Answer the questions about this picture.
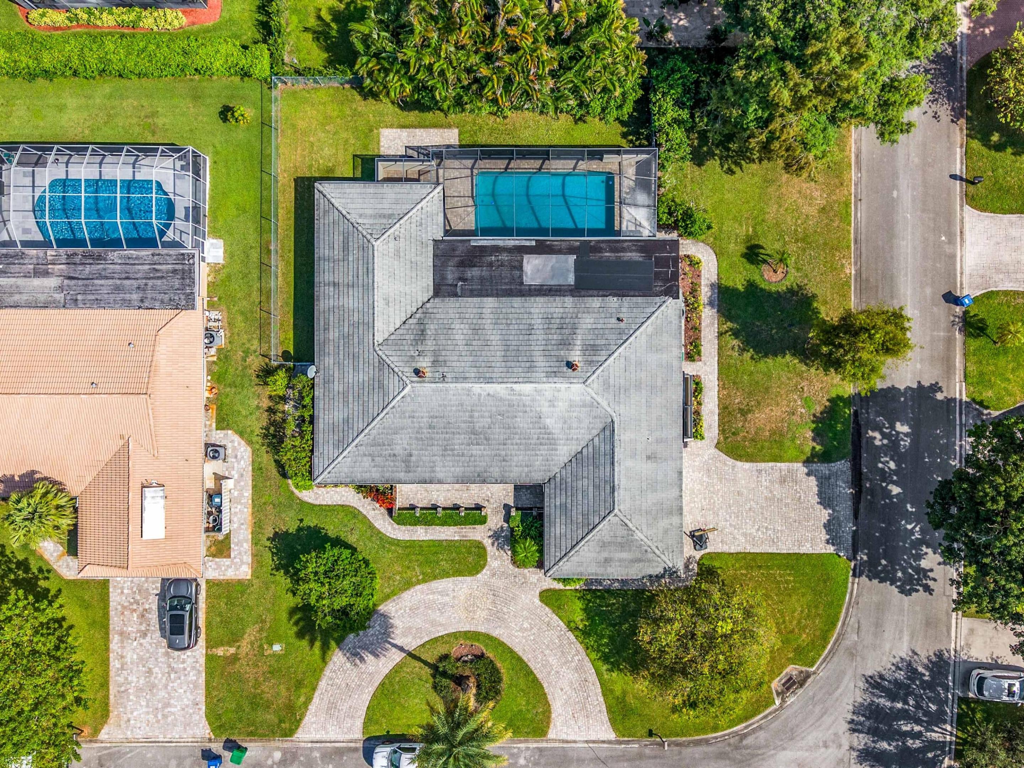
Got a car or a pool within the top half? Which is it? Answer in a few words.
pool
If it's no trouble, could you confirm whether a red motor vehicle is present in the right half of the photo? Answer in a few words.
No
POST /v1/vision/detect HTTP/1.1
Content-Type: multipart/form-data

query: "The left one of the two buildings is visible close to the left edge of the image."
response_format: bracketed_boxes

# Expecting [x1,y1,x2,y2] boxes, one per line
[0,248,206,579]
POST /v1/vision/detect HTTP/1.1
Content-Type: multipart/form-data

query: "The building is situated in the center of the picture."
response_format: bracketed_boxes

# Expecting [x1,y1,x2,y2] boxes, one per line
[312,180,685,580]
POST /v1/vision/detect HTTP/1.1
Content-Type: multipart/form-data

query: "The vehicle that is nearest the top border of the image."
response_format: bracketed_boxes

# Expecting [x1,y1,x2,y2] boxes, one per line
[164,579,204,653]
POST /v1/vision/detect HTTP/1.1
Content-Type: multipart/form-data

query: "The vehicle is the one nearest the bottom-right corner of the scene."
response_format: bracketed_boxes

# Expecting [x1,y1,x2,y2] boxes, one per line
[969,664,1024,702]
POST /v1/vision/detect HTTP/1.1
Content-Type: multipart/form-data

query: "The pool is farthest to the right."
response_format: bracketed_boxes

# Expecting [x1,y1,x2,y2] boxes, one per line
[471,167,618,236]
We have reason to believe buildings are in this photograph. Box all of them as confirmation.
[312,180,685,580]
[0,248,206,579]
